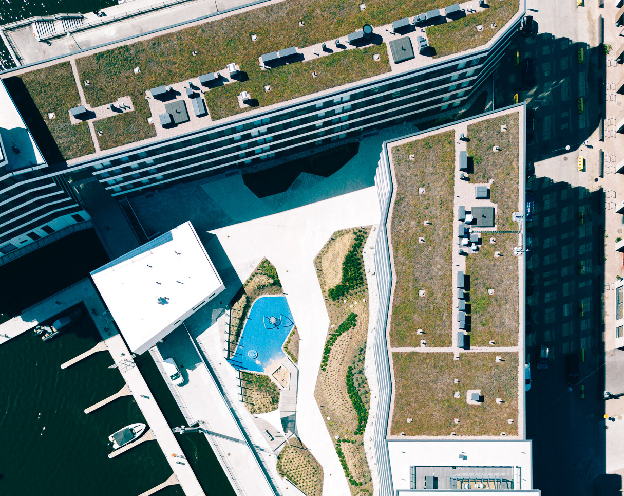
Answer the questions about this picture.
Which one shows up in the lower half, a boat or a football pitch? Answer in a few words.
boat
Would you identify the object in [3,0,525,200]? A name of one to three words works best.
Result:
building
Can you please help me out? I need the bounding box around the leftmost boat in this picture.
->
[35,303,80,344]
